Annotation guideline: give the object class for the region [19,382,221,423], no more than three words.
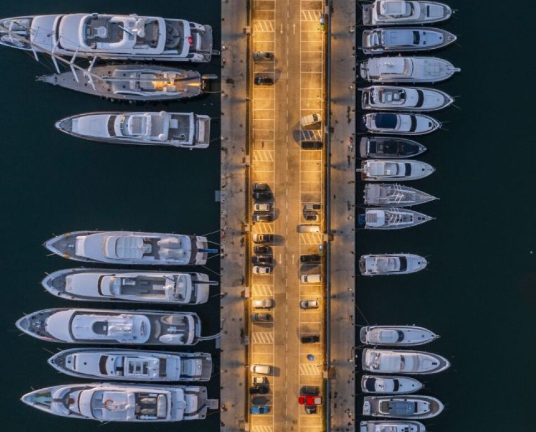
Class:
boat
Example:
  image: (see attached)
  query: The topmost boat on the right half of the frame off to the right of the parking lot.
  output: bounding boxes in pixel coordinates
[361,0,459,27]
